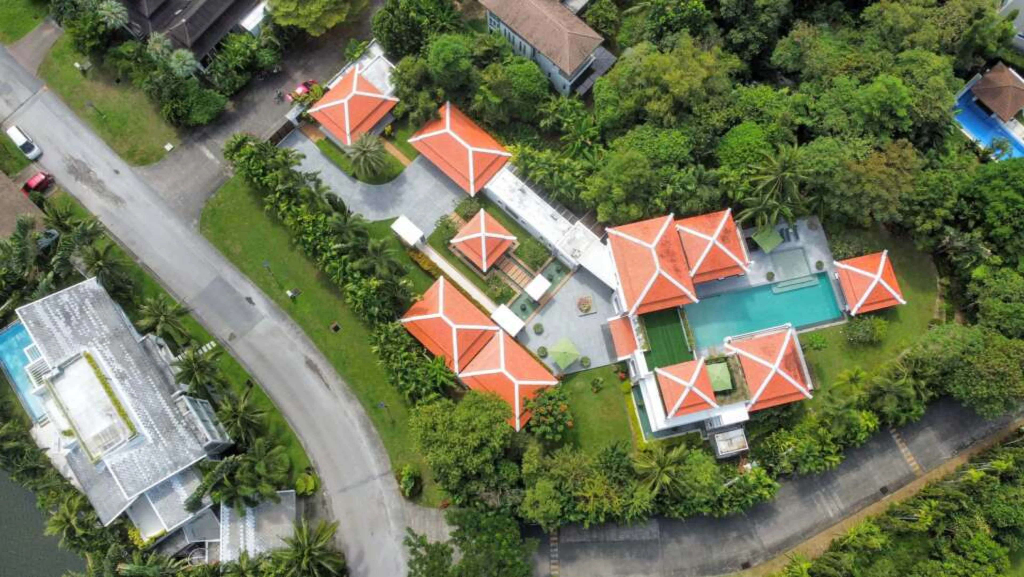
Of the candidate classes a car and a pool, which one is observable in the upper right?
pool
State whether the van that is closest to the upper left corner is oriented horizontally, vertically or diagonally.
diagonally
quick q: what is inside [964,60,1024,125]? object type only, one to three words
building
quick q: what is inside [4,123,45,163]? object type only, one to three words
van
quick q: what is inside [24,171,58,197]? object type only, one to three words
car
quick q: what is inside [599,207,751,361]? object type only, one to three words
house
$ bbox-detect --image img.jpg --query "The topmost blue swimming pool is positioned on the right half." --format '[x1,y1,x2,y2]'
[951,83,1024,165]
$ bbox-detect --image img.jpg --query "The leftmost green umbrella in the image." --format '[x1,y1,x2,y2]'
[548,337,579,369]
